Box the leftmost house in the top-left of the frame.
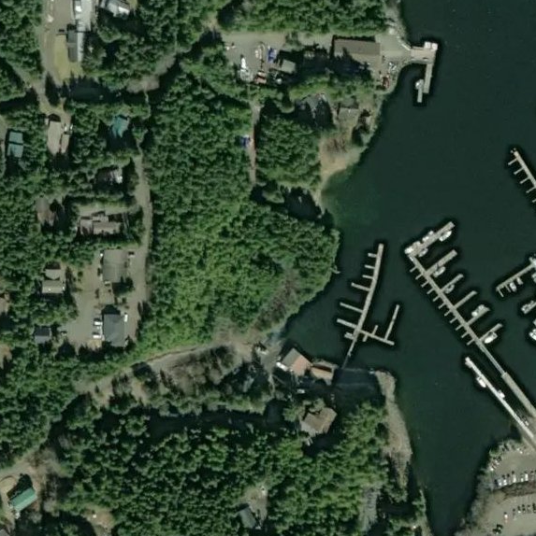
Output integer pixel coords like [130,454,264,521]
[7,132,23,158]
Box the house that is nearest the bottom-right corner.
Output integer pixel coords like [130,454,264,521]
[303,406,333,434]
